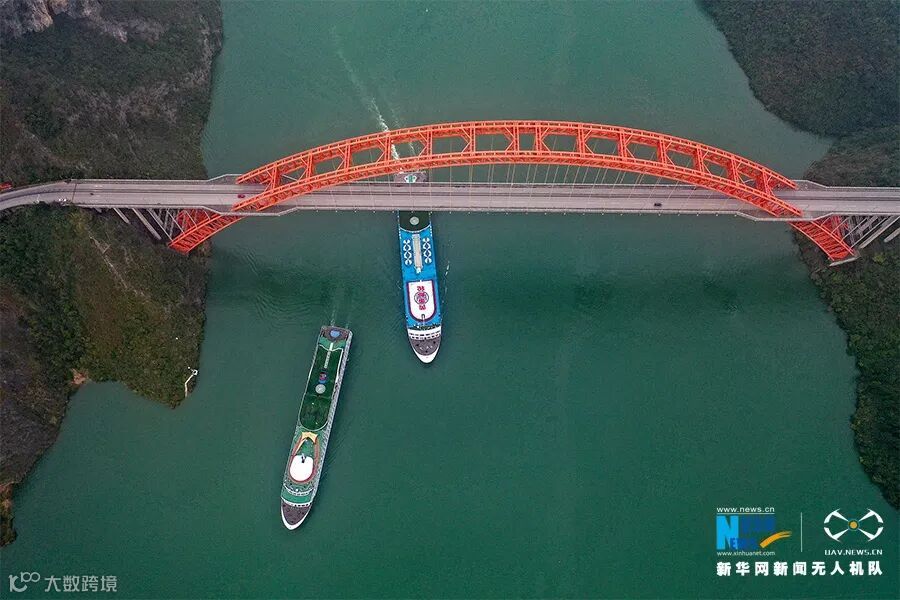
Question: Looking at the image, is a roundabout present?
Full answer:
No, I find no roundabout anywhere in the image.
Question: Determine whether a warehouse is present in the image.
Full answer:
No, I can see no warehouse in this picture.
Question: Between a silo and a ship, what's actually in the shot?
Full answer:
This aerial view contains a ship.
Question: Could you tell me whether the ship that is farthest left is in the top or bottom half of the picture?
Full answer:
You can find the ship that is farthest left in the bottom half.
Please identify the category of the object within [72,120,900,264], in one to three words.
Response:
bridge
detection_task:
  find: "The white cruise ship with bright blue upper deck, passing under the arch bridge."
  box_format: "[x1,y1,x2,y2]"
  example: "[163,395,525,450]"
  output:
[398,210,440,363]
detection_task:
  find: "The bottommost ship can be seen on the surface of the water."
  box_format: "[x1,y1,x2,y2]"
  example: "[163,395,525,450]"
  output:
[283,327,352,530]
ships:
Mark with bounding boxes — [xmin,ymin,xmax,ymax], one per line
[398,210,440,363]
[283,327,352,530]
